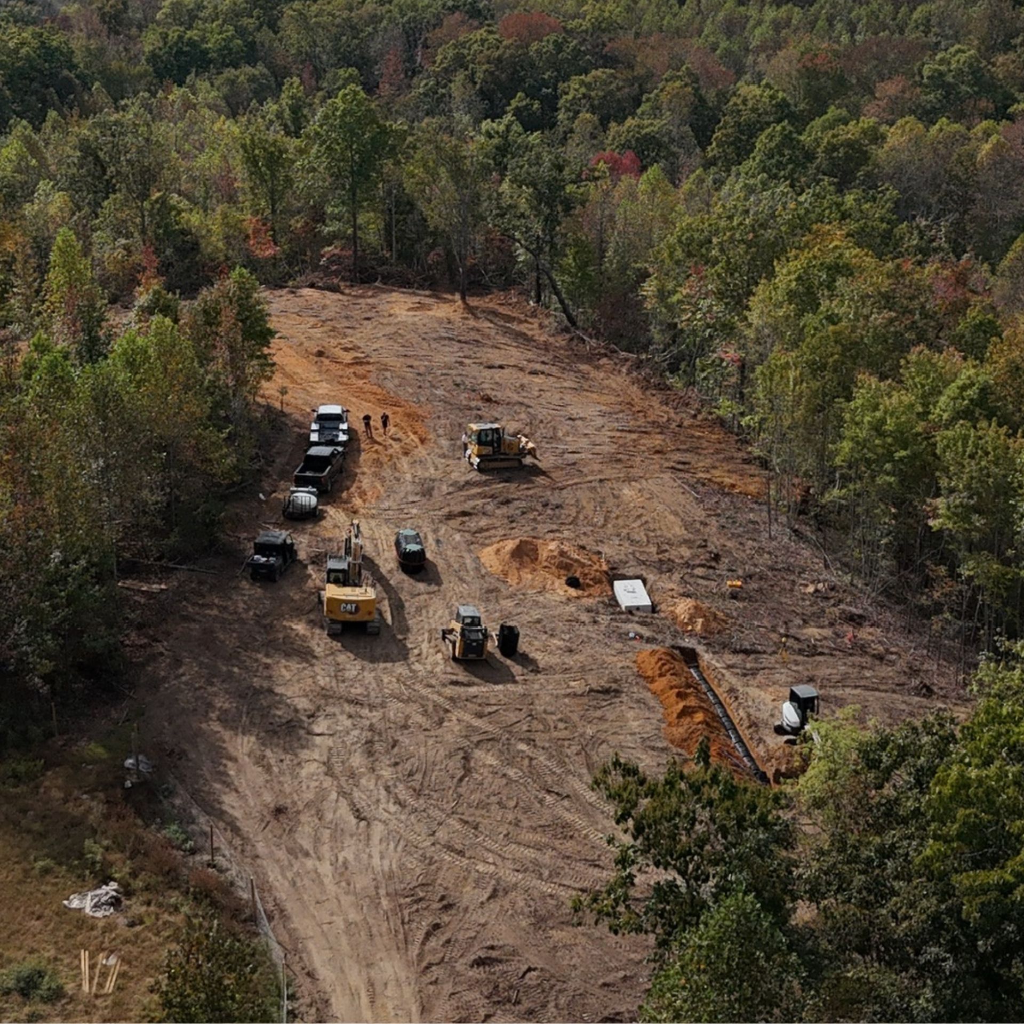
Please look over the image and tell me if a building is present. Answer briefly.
No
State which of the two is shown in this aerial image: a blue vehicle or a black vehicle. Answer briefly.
black vehicle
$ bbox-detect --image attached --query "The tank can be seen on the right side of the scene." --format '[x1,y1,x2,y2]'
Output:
[613,578,653,613]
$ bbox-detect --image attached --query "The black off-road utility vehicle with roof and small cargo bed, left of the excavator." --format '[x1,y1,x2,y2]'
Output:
[248,526,298,579]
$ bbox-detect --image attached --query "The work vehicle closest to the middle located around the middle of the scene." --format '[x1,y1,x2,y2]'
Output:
[462,418,542,473]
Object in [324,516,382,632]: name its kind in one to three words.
work vehicle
